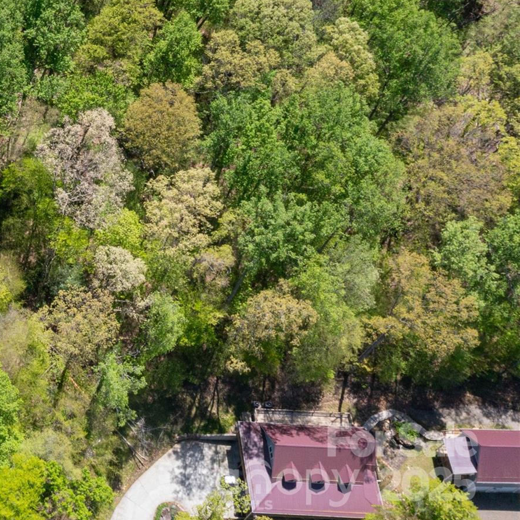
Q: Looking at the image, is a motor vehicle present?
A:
No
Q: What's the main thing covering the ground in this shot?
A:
trees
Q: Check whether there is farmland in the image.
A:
No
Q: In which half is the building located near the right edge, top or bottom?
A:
bottom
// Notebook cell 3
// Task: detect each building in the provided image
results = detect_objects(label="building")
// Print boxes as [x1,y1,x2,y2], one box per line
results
[230,407,386,520]
[416,428,520,492]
